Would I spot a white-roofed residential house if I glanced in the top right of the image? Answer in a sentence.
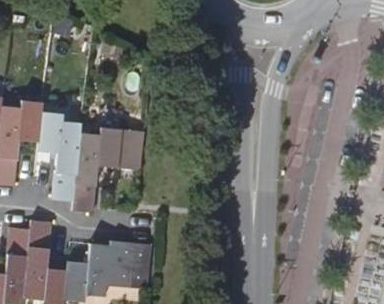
No, the scene shows no white-roofed residential house in the top right of the image.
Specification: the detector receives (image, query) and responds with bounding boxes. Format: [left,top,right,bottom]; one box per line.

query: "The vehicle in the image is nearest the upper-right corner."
[312,36,328,58]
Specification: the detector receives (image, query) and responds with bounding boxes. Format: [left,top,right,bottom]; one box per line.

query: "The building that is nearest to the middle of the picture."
[119,129,144,170]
